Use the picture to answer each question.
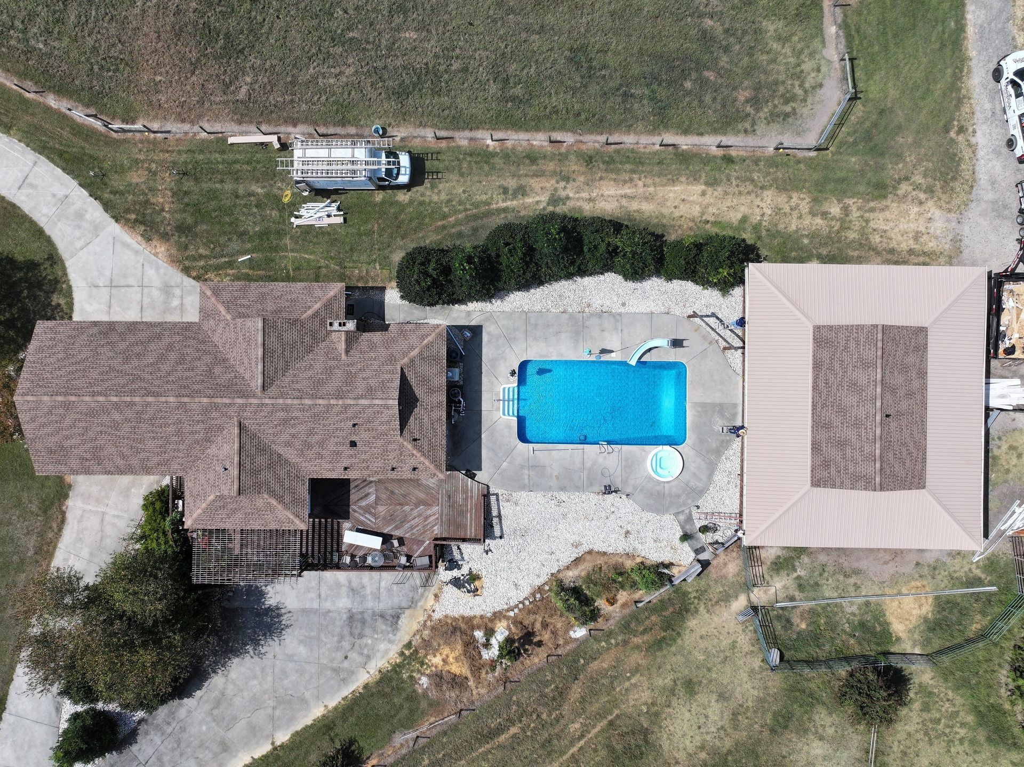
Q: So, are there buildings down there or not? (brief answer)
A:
Yes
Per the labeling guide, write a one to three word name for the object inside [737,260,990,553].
barn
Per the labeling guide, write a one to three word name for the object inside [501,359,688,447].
swimming pool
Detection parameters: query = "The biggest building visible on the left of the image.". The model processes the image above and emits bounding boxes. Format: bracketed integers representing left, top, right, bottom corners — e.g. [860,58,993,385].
[11,282,448,528]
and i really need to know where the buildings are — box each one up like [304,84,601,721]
[11,282,448,528]
[737,260,990,553]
